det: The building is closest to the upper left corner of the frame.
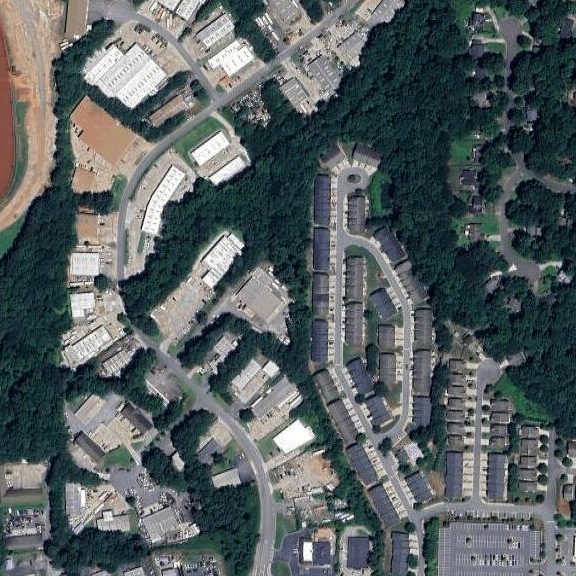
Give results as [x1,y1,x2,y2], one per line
[64,0,90,36]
